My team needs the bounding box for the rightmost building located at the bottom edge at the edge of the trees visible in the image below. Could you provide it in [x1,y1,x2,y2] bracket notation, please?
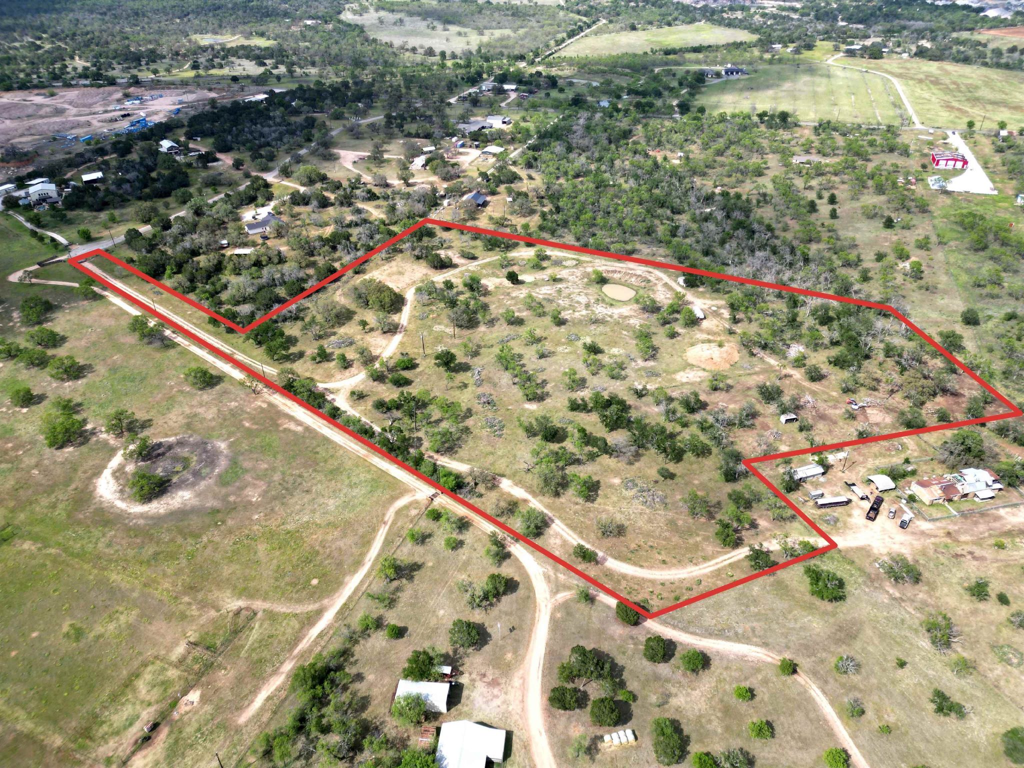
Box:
[434,720,506,768]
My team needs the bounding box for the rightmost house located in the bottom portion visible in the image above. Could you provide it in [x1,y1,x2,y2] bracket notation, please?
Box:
[904,449,995,506]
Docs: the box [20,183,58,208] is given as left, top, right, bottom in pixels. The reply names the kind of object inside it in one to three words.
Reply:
house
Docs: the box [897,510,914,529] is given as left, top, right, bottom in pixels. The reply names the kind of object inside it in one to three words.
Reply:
vehicle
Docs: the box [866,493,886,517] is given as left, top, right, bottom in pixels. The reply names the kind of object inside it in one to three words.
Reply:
vehicle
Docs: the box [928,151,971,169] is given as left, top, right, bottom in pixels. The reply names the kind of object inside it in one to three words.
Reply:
barn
